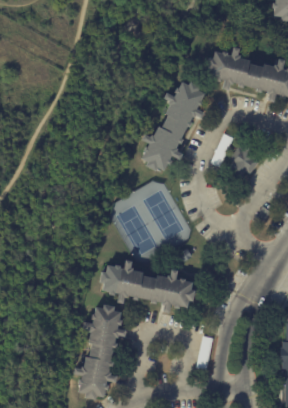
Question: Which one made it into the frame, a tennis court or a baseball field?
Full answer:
There is a tennis court in the scene.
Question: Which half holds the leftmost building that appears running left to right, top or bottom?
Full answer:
Seen from above, the leftmost building that appears running left to right lies in the bottom half of the view.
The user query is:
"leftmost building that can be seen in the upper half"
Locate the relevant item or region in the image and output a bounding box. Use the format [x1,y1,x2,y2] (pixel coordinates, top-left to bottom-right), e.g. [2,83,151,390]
[141,82,204,168]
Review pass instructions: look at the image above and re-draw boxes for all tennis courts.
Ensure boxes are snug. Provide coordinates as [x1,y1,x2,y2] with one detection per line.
[118,206,154,255]
[144,192,182,239]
